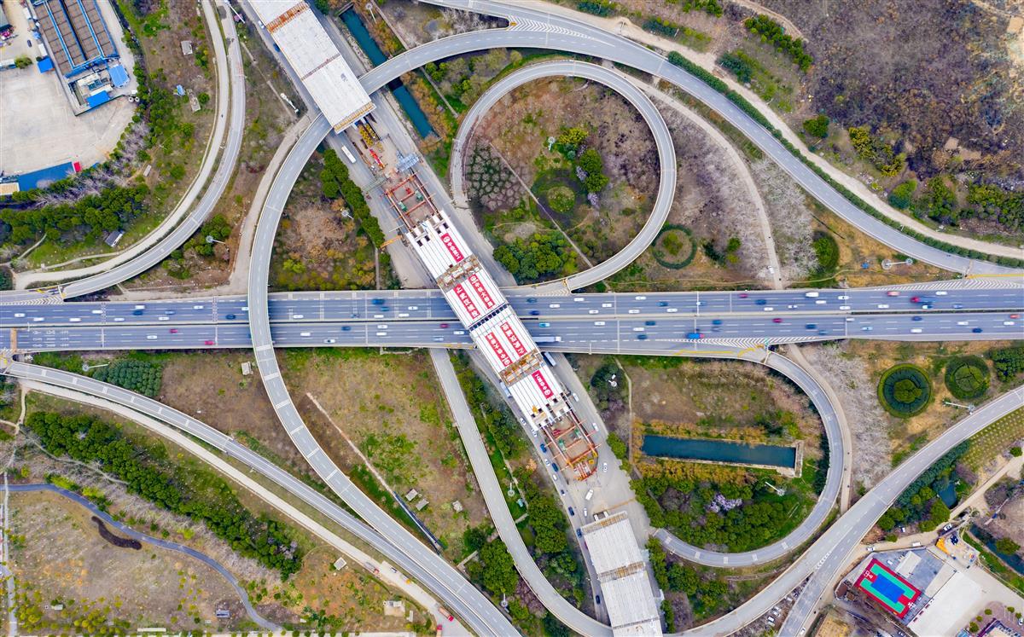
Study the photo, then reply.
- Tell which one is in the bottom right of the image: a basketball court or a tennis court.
basketball court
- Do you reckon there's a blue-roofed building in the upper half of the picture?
Yes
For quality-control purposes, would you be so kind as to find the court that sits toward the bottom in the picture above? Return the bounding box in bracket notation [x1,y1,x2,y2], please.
[854,558,921,620]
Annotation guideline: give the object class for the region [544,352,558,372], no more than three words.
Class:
vehicle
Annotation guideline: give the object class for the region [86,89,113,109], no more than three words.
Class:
building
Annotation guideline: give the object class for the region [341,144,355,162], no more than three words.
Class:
vehicle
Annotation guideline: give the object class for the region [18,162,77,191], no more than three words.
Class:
shed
